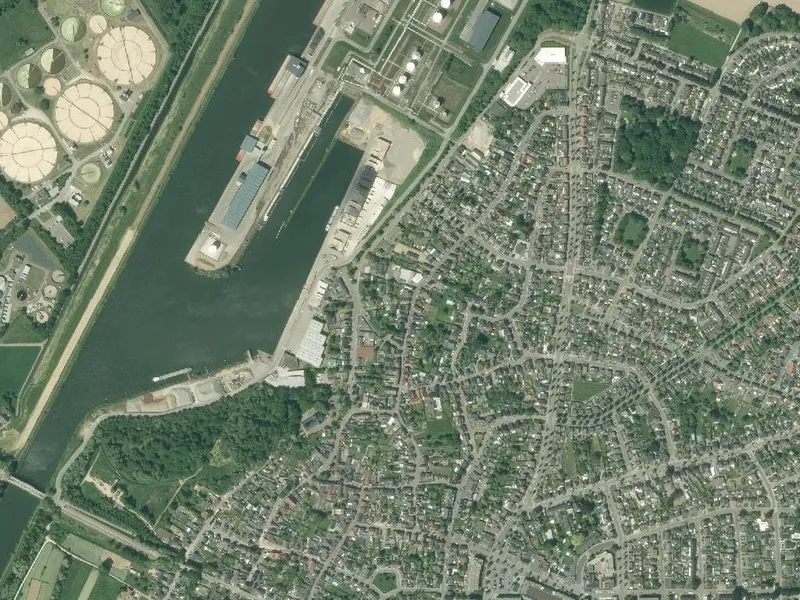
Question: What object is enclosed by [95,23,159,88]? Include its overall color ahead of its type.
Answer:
white storage tank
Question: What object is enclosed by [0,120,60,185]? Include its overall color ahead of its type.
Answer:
white storage tank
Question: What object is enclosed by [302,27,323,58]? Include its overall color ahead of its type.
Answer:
gray ship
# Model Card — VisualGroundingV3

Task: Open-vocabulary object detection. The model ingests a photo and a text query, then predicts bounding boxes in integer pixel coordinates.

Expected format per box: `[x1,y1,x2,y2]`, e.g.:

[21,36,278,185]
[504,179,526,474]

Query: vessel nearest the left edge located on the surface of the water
[153,367,192,381]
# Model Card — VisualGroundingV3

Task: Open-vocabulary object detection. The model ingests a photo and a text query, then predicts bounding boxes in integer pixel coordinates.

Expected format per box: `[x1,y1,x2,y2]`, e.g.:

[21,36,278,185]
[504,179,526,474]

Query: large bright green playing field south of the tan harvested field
[668,18,730,67]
